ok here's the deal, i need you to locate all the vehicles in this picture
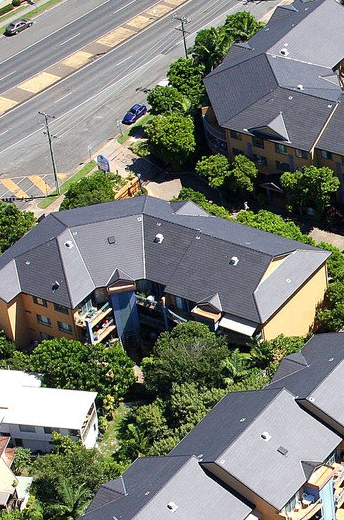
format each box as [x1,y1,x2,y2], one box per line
[153,78,171,90]
[121,106,146,122]
[5,20,30,34]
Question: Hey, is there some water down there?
No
